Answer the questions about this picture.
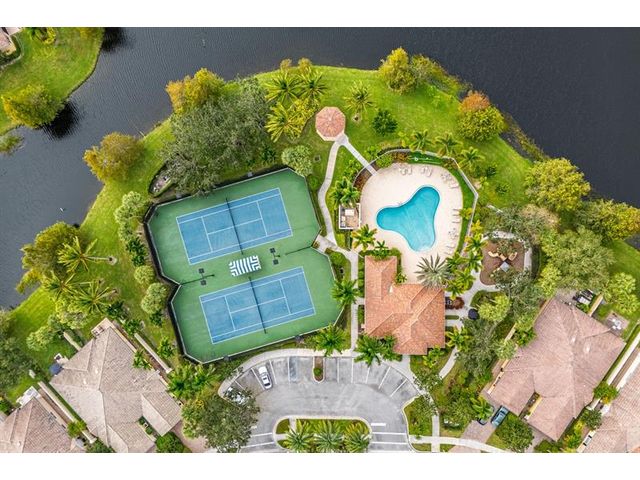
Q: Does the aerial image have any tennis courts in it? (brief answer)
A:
Yes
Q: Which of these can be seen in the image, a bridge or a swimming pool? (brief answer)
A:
swimming pool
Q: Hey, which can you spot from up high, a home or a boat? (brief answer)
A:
home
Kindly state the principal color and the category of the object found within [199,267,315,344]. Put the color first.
blue tennis court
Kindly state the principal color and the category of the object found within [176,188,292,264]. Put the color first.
blue tennis court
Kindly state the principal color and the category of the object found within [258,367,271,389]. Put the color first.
white vehicle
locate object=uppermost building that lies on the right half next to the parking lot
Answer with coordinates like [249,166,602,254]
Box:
[365,256,445,356]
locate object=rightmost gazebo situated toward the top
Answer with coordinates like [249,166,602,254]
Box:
[316,109,344,140]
